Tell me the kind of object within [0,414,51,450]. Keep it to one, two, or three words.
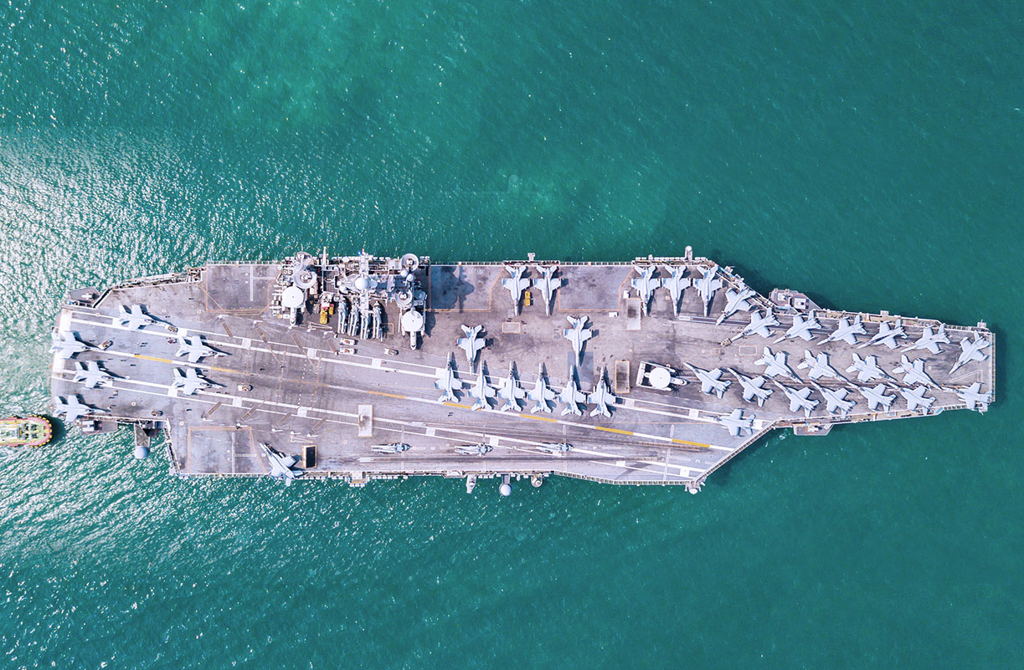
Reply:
boat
